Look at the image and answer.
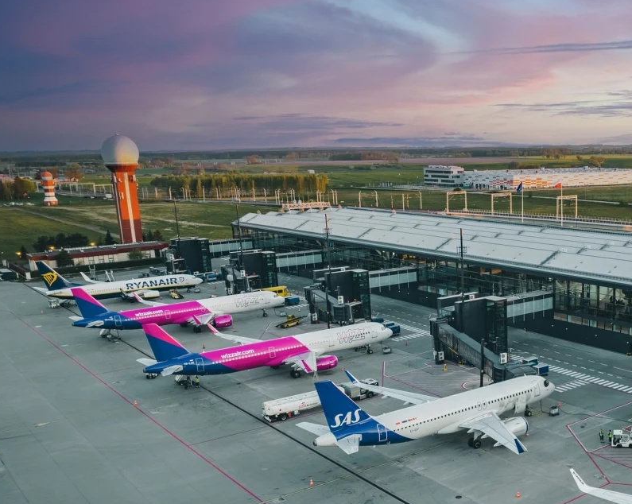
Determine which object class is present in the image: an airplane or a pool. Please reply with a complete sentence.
The one in the frame is an airplane.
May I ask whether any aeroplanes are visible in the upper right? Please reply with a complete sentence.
No, no aeroplane is visible in the upper right.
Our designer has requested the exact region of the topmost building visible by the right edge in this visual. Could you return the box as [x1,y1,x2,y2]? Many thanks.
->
[464,167,632,190]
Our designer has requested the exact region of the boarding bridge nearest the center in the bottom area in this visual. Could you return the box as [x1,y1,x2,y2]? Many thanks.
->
[291,290,349,334]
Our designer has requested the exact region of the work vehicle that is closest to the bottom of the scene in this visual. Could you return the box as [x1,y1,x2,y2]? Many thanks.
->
[611,431,632,449]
